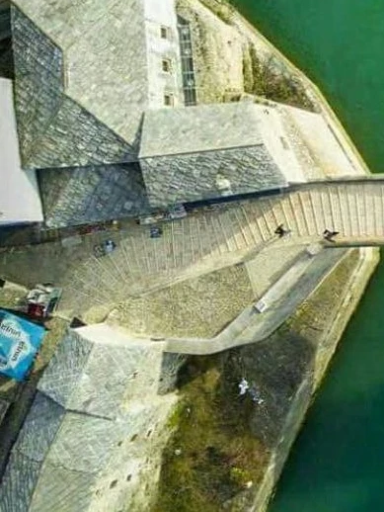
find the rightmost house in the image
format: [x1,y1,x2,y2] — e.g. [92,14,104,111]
[139,99,315,208]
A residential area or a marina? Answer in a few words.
residential area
